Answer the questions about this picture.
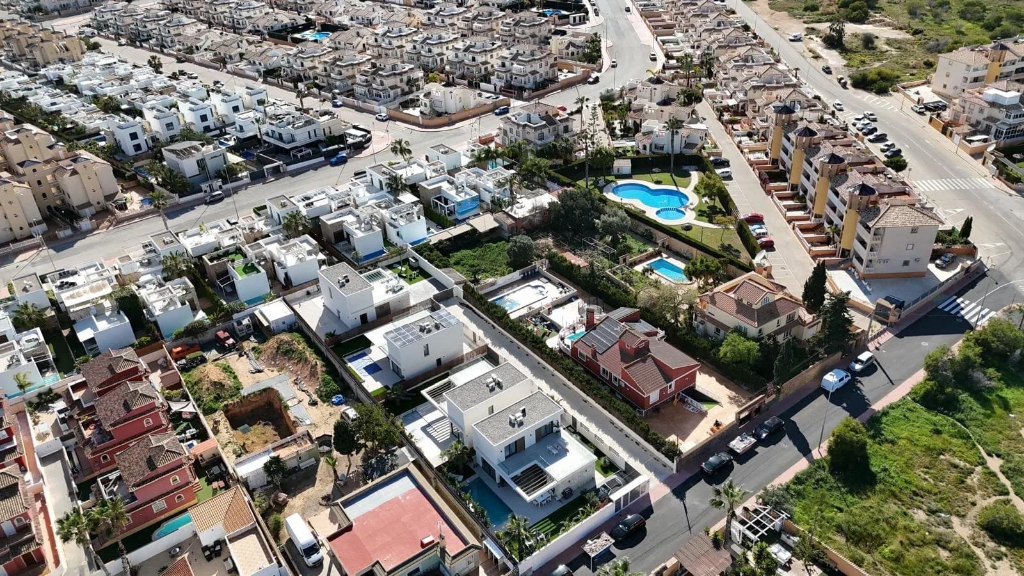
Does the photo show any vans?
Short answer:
Yes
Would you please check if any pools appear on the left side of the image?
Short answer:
Yes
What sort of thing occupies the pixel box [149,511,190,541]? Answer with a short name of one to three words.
swimming pool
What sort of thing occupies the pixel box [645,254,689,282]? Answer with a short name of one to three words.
swimming pool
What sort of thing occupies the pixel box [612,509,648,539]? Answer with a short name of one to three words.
car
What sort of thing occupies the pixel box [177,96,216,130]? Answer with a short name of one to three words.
house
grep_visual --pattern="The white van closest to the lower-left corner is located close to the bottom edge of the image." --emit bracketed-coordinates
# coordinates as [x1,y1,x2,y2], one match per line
[281,510,318,559]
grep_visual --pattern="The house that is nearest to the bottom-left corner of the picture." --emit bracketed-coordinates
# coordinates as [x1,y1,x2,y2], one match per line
[0,451,52,539]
